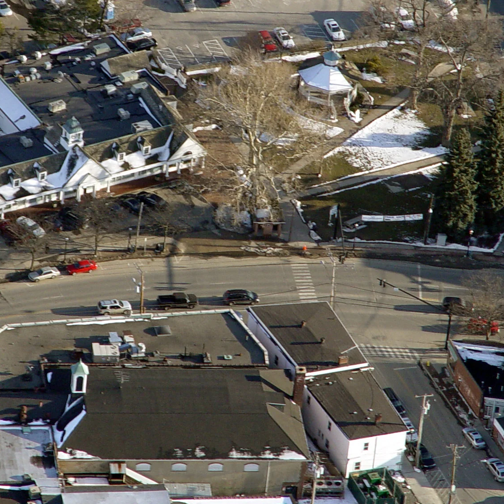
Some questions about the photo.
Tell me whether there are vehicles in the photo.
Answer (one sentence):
Yes, the image includes a vehicle.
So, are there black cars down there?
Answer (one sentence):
Yes, there's a black car here.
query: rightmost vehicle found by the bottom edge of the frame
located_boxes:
[486,458,504,483]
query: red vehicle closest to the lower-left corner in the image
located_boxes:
[64,260,100,277]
